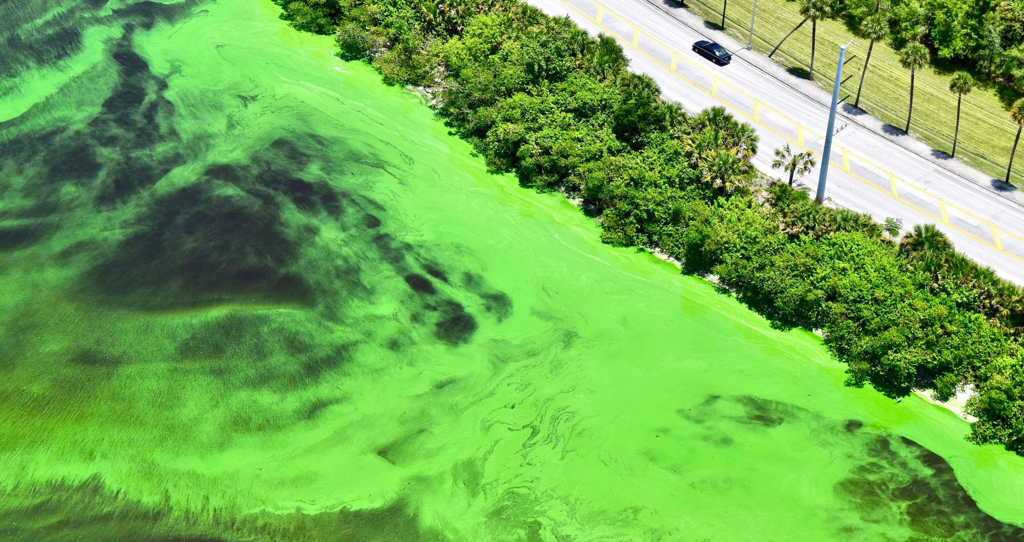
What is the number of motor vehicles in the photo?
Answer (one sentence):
There is 1 motor vehicle in the image.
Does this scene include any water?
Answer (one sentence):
Yes, some water is visible.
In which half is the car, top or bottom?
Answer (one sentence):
The top half of the photo is where the car is.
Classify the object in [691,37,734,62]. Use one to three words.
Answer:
car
